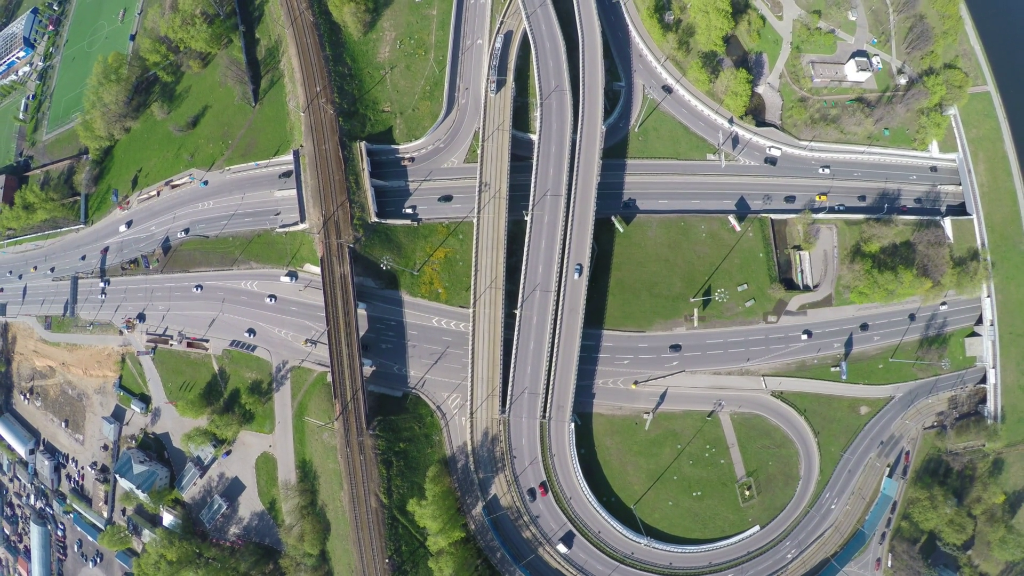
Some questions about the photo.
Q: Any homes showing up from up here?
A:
Yes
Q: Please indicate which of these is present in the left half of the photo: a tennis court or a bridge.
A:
bridge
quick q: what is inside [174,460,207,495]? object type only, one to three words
building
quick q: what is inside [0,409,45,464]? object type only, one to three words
hangar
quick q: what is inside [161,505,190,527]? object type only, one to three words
shed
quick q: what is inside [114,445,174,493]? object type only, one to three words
house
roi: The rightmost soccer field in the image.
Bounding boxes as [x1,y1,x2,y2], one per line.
[47,0,134,133]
